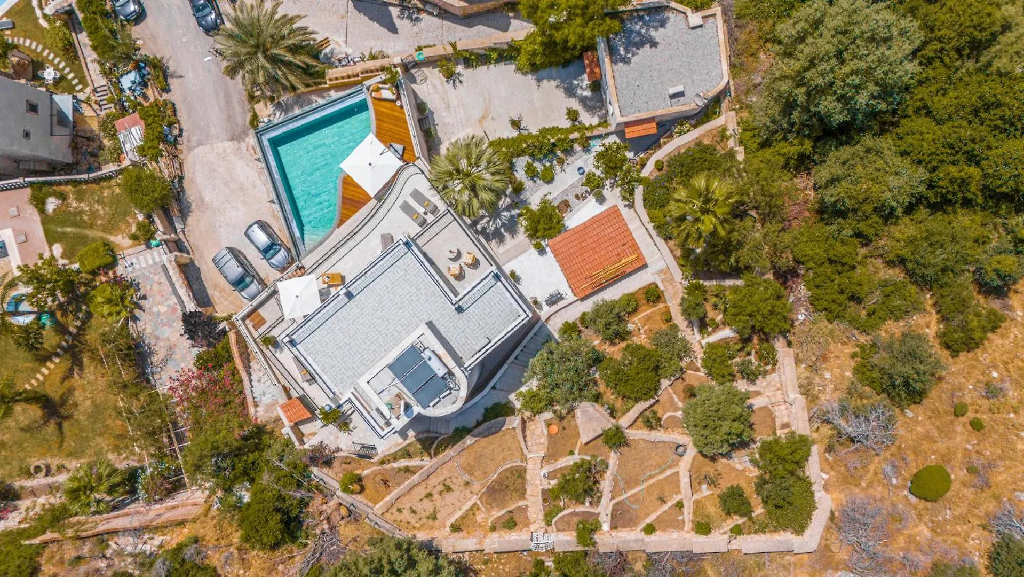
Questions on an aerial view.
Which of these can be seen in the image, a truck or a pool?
pool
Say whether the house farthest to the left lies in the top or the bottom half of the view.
top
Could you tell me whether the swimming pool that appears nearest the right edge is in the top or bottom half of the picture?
top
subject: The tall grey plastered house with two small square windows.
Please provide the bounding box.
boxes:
[0,74,76,183]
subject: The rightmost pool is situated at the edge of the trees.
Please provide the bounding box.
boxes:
[255,84,379,262]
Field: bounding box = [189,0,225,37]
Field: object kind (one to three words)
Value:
car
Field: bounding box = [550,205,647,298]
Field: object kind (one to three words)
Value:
building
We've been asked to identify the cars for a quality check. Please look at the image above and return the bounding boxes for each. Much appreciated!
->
[108,0,145,24]
[189,0,225,37]
[245,217,292,273]
[213,241,264,304]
